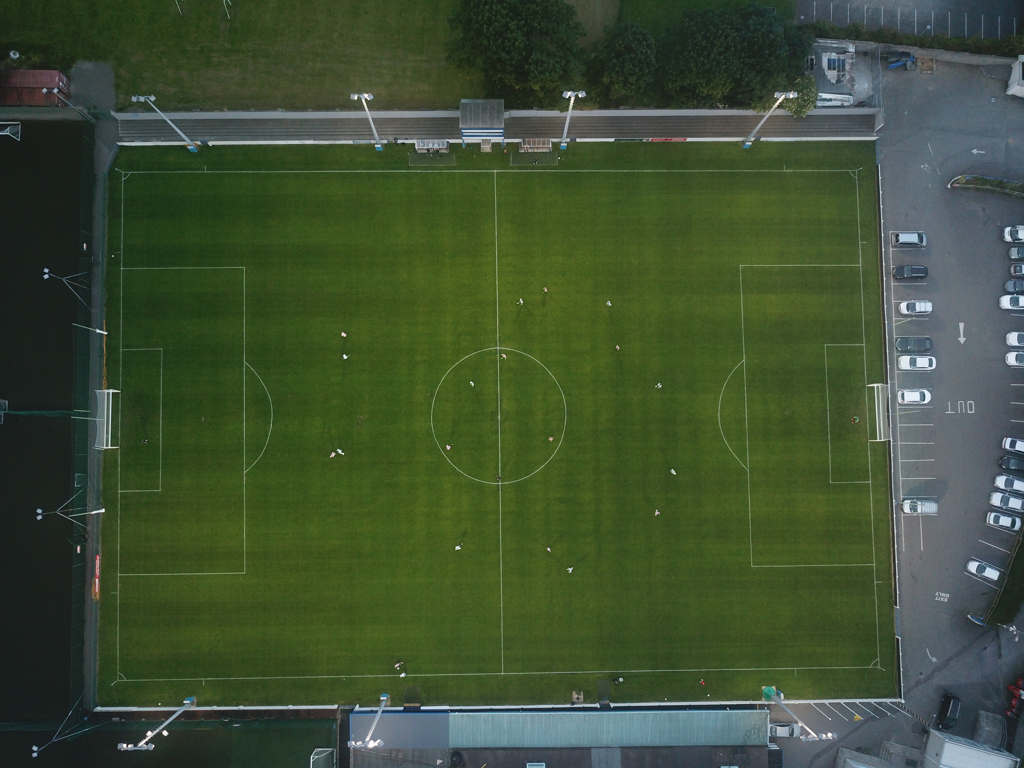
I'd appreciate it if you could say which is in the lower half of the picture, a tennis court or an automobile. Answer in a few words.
automobile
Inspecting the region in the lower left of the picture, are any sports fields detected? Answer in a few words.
Yes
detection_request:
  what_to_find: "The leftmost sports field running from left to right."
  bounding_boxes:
[0,719,338,768]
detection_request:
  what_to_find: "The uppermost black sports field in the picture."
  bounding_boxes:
[0,120,95,735]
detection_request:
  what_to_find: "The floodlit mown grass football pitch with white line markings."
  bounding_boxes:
[97,140,899,706]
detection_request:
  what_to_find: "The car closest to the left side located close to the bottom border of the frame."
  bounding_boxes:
[768,721,802,739]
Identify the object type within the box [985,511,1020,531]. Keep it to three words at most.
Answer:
car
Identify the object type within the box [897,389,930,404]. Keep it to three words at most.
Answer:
car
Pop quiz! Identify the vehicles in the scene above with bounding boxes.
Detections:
[1004,331,1024,347]
[1000,439,1024,457]
[1004,351,1024,367]
[897,355,935,370]
[1001,225,1024,242]
[768,721,802,739]
[897,300,931,315]
[985,511,1020,531]
[897,389,930,404]
[1003,278,1024,293]
[998,294,1024,310]
[1010,263,1024,277]
[1008,245,1024,261]
[992,476,1024,496]
[1006,683,1024,710]
[892,232,925,248]
[987,493,1024,514]
[895,336,932,352]
[892,264,928,280]
[965,559,1000,583]
[901,499,939,515]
